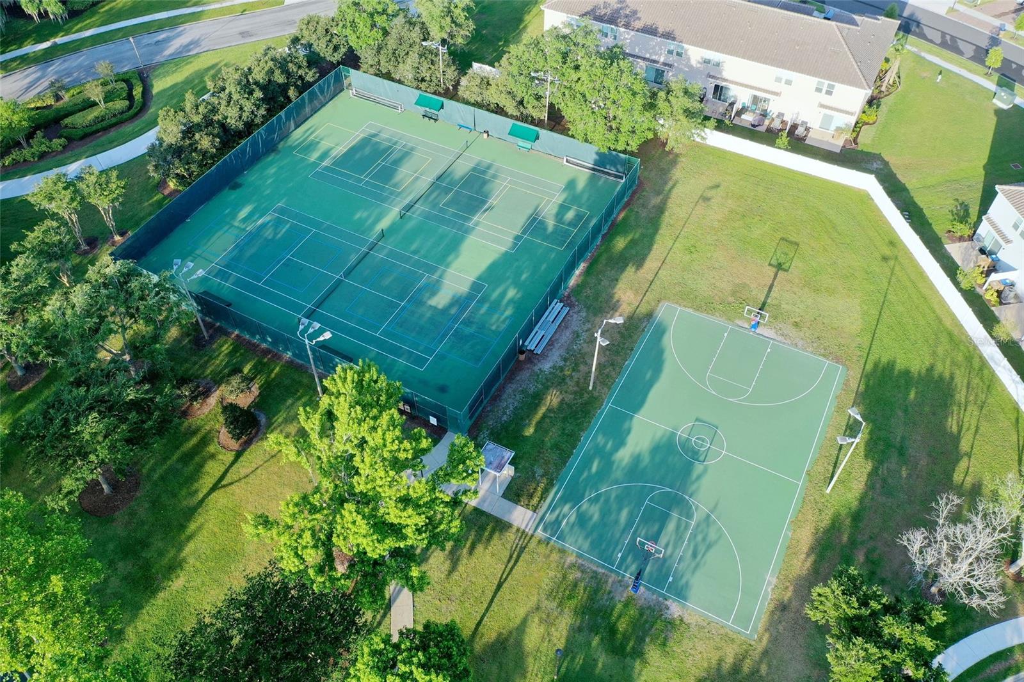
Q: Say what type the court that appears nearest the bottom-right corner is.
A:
basketball court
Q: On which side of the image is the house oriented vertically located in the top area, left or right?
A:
right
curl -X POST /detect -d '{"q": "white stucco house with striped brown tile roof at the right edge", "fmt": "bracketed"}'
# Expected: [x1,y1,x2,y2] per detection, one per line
[974,183,1024,305]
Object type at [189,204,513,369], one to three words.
tennis court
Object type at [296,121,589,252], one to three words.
tennis court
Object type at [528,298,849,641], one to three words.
basketball court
